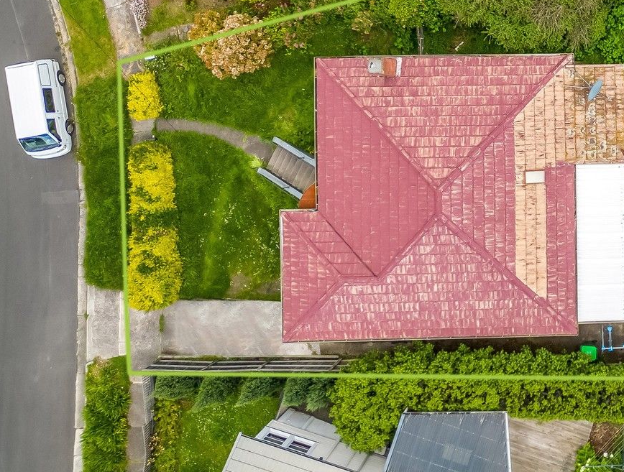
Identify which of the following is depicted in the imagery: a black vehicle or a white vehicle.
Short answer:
white vehicle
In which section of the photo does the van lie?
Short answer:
top left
